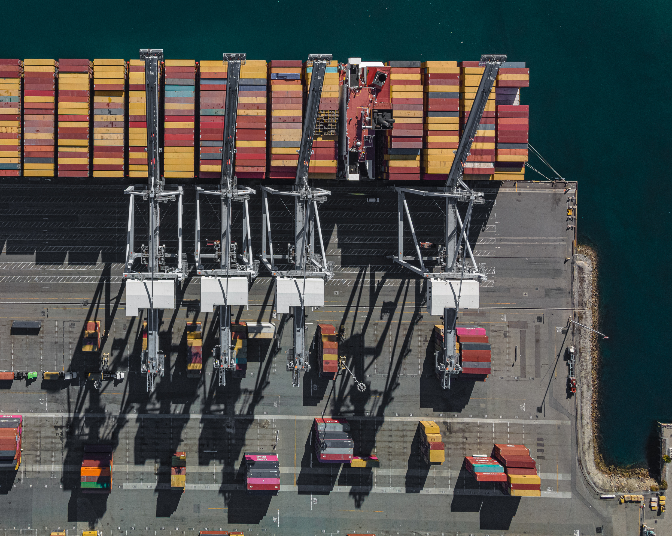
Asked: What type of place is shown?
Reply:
port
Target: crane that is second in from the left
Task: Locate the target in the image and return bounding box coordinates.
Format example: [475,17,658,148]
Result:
[186,51,265,389]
